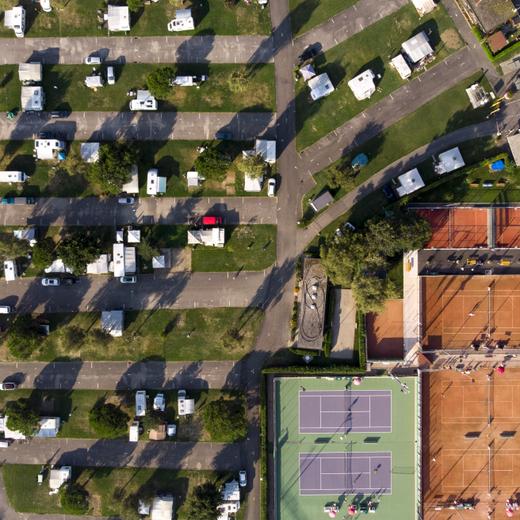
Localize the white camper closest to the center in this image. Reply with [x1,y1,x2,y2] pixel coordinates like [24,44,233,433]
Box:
[205,229,224,246]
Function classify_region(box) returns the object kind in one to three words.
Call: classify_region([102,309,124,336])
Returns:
tent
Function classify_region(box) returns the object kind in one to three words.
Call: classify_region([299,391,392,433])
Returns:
tennis court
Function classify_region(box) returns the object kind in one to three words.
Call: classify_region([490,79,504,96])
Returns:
vehicle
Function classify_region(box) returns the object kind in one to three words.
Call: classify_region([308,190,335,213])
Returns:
shed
